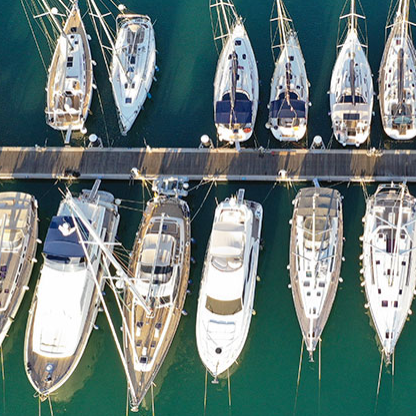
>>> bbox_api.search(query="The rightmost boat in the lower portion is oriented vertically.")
[362,182,416,366]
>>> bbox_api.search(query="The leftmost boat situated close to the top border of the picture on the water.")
[21,0,93,143]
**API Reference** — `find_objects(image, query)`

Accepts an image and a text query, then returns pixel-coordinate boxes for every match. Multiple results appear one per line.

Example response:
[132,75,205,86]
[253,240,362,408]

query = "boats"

[208,0,258,147]
[288,182,341,360]
[81,0,152,135]
[329,0,373,150]
[62,190,188,416]
[149,174,196,194]
[379,0,416,140]
[362,182,416,366]
[21,0,93,143]
[193,190,263,385]
[12,183,128,409]
[264,0,310,141]
[0,188,34,352]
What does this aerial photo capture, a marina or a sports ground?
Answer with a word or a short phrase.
marina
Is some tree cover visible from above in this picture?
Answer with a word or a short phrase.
No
